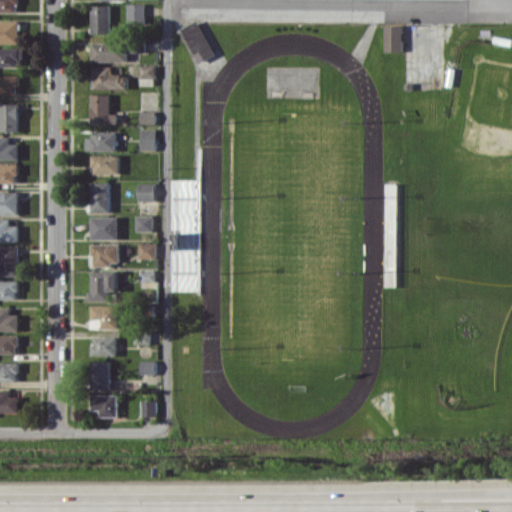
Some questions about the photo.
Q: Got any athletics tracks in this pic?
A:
Yes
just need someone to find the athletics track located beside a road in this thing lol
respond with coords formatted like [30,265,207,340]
[202,35,384,438]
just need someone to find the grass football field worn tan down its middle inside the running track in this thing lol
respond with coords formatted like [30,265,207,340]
[222,54,364,420]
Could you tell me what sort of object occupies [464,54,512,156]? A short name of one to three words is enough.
baseball field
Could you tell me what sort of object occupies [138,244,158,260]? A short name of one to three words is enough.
building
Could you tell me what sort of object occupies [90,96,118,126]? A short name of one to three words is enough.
house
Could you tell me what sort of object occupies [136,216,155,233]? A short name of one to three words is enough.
building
